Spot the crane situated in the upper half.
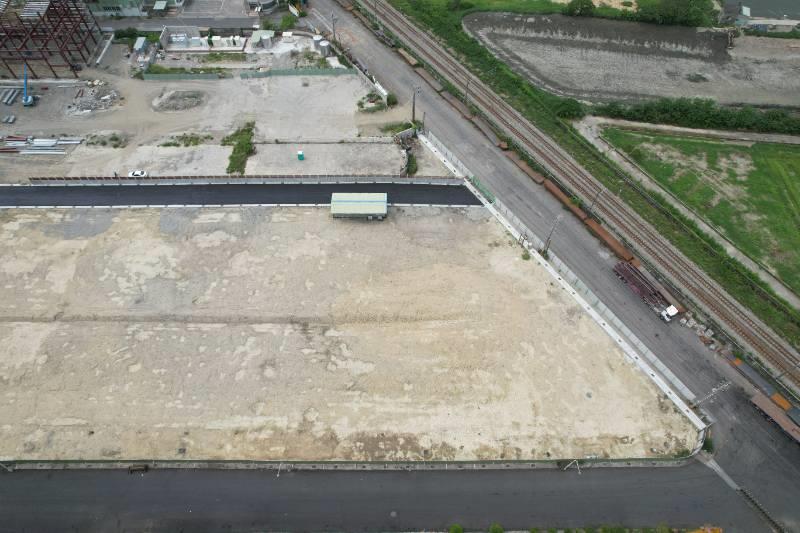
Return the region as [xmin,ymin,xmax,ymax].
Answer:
[17,63,46,110]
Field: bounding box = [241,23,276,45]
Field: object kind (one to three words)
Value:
shed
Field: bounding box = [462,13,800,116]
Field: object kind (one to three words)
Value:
pond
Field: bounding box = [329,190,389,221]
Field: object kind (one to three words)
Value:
building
